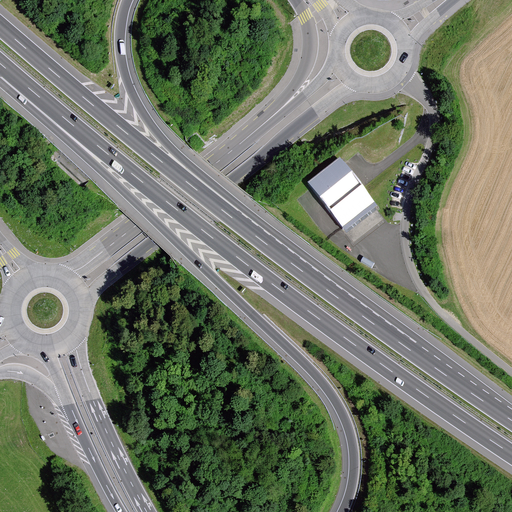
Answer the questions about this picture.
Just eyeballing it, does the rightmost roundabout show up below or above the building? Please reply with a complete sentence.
Looking at the photo, you'll find the rightmost roundabout above the building.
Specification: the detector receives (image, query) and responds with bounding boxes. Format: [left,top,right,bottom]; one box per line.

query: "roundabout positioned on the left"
[0,232,126,406]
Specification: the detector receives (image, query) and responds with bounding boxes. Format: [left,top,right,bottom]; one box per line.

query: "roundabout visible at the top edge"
[303,0,441,114]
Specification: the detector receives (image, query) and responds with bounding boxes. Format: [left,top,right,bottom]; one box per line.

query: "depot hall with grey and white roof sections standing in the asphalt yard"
[308,158,378,232]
